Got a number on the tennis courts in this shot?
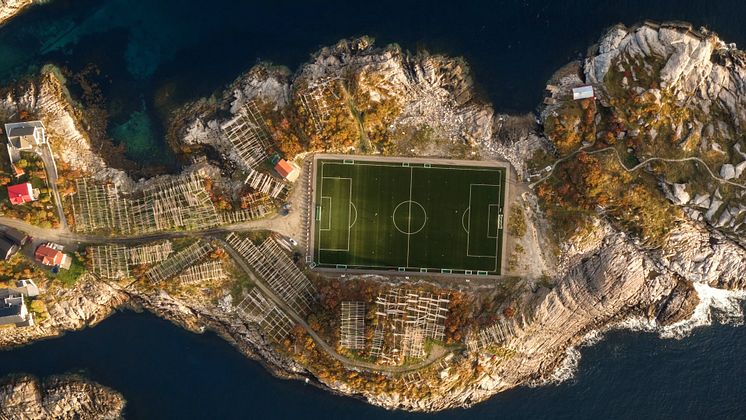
none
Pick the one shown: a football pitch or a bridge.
football pitch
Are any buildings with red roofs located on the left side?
Yes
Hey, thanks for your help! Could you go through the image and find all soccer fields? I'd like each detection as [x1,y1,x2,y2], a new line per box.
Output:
[309,155,514,280]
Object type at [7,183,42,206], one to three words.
house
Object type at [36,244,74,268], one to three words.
house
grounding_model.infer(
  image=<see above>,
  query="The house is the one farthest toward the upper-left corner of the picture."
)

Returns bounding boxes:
[6,119,46,151]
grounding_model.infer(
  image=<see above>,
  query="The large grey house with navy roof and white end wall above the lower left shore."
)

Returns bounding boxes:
[0,288,35,330]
